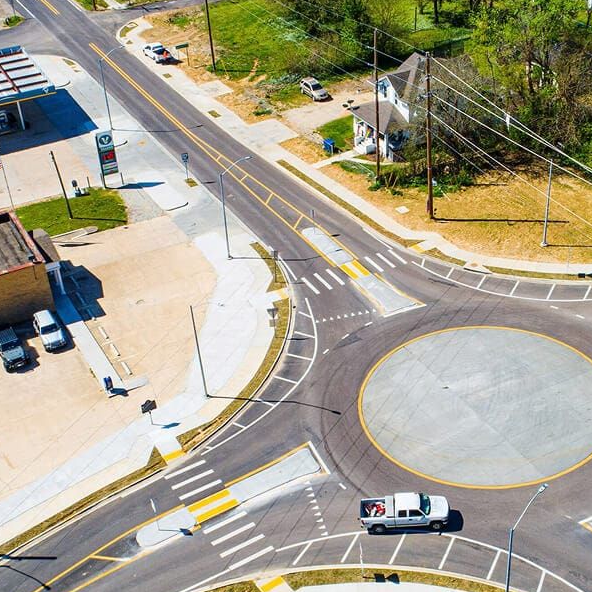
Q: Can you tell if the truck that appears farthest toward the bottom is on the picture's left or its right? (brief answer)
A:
right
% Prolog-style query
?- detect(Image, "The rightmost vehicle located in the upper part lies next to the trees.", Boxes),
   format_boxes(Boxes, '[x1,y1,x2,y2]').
[298,75,328,99]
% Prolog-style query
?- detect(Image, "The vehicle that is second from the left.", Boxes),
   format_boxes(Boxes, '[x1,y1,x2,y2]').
[28,306,71,352]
